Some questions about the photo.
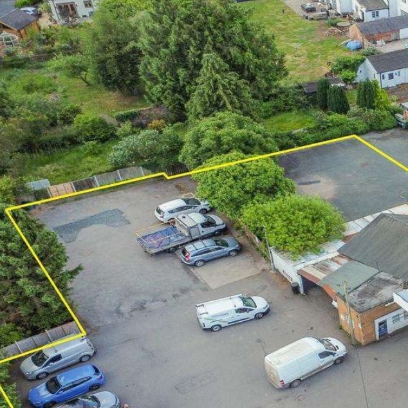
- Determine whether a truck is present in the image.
Yes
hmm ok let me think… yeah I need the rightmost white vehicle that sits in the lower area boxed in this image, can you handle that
[260,326,352,394]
